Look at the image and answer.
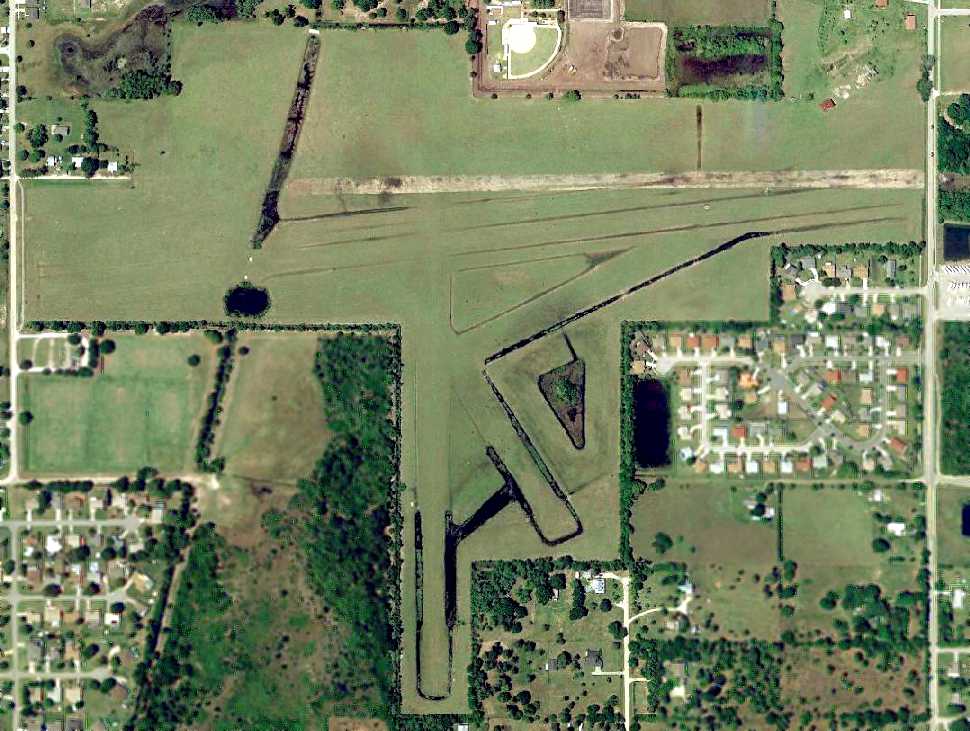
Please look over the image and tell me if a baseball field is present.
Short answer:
Yes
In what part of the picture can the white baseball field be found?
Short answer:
top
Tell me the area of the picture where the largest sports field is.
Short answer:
left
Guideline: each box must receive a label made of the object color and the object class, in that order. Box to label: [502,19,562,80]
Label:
white baseball field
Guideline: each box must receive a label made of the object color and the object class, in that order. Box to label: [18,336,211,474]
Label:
green sports field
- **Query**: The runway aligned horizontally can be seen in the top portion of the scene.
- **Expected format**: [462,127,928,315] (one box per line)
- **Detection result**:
[284,169,924,194]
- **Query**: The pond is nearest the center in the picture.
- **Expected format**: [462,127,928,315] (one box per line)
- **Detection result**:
[636,379,670,468]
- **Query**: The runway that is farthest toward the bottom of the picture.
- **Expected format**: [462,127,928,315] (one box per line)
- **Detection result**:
[417,195,447,690]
